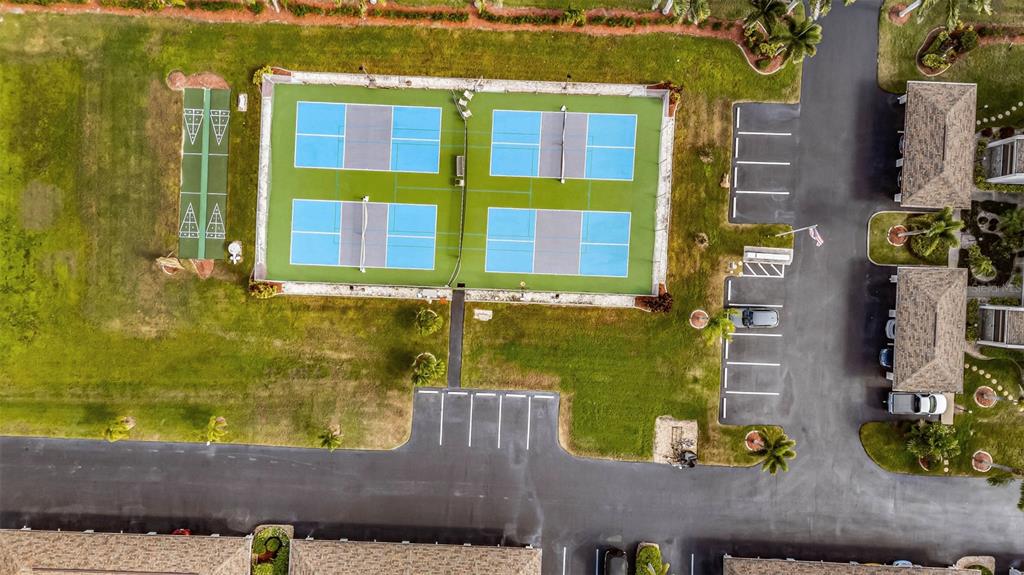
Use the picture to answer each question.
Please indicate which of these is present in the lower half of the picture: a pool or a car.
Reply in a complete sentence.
The one visible in the lower half of the picture is a car.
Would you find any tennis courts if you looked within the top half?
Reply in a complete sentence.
Yes, looking within the top half, one can make out a tennis court.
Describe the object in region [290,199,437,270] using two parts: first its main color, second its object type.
blue sports court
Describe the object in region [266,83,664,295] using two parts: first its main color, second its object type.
green tennis court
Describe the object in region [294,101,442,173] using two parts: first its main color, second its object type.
blue sports court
